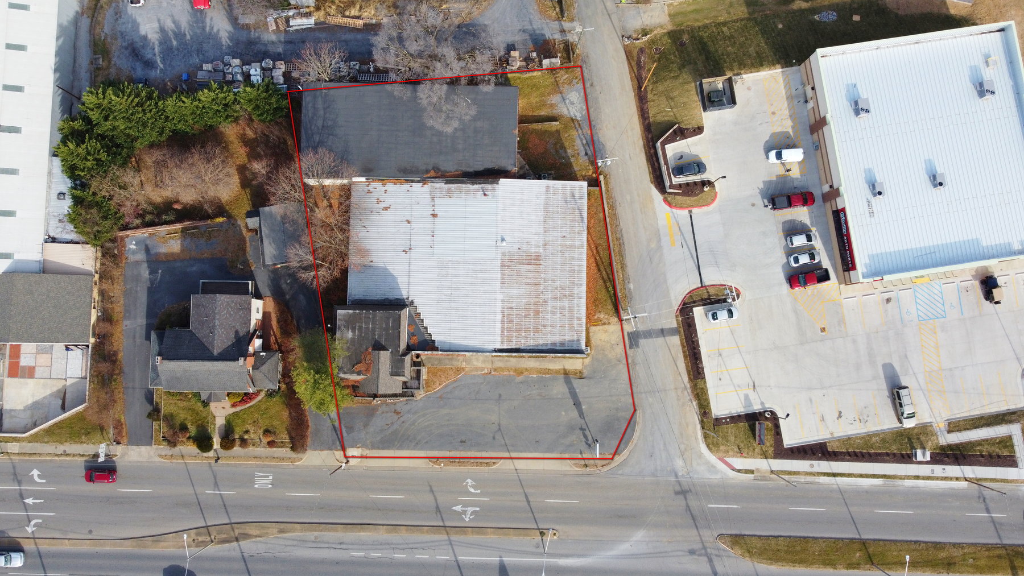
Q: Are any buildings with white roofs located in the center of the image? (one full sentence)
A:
Yes, there is a building with a white roof in the center of the image.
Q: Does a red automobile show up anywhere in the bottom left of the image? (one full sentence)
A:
Yes, a red automobile appears in the bottom left of the image.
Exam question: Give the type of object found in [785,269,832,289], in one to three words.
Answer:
vehicle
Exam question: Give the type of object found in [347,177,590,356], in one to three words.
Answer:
building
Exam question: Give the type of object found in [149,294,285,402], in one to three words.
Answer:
house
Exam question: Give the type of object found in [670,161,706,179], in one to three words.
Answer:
car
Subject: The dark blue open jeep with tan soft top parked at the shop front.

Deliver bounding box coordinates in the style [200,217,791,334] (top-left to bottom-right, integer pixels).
[978,275,1005,306]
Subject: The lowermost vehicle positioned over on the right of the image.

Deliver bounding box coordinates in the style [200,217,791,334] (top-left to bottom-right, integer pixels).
[892,387,917,426]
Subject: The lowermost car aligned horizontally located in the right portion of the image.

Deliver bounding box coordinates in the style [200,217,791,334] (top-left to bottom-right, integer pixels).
[705,306,740,324]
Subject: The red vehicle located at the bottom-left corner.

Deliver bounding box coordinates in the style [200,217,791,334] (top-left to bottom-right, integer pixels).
[85,469,119,485]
